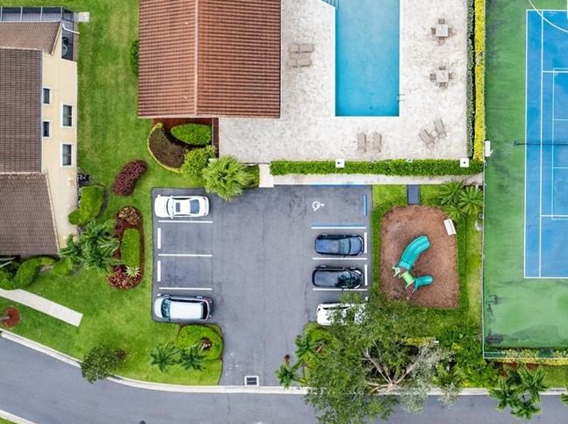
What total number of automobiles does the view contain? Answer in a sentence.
The count of automobiles comes to 5.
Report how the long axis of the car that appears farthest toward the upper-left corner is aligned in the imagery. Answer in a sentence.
The car that appears farthest toward the upper-left corner is laid out horizontally.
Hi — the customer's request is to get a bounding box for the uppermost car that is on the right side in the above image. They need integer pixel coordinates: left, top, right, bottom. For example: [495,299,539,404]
[315,234,366,260]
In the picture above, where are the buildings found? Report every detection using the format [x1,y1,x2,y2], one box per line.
[137,0,282,119]
[0,20,79,256]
